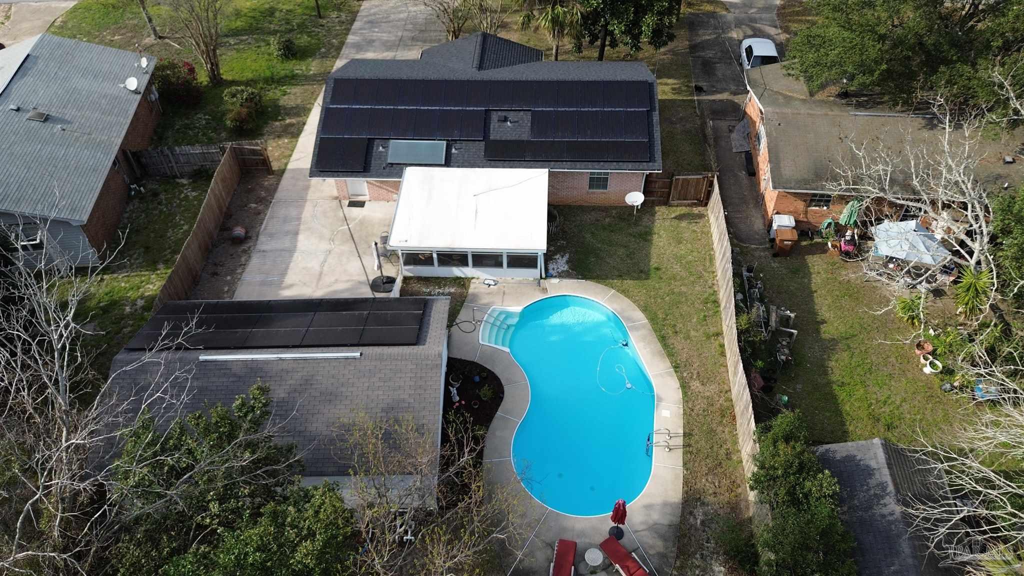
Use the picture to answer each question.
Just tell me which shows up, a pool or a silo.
pool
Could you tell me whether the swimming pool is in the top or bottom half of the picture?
bottom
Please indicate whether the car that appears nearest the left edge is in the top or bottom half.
top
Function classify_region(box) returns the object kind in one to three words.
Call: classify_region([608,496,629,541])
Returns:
umbrella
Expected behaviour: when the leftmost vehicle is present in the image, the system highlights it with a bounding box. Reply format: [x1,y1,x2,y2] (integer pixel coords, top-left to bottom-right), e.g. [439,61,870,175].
[734,38,777,69]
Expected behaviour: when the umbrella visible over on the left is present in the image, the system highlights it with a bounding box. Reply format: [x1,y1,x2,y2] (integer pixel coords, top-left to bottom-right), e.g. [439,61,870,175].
[368,245,393,298]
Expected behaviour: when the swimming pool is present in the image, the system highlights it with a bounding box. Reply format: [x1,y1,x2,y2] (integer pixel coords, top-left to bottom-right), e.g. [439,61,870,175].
[476,294,670,517]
